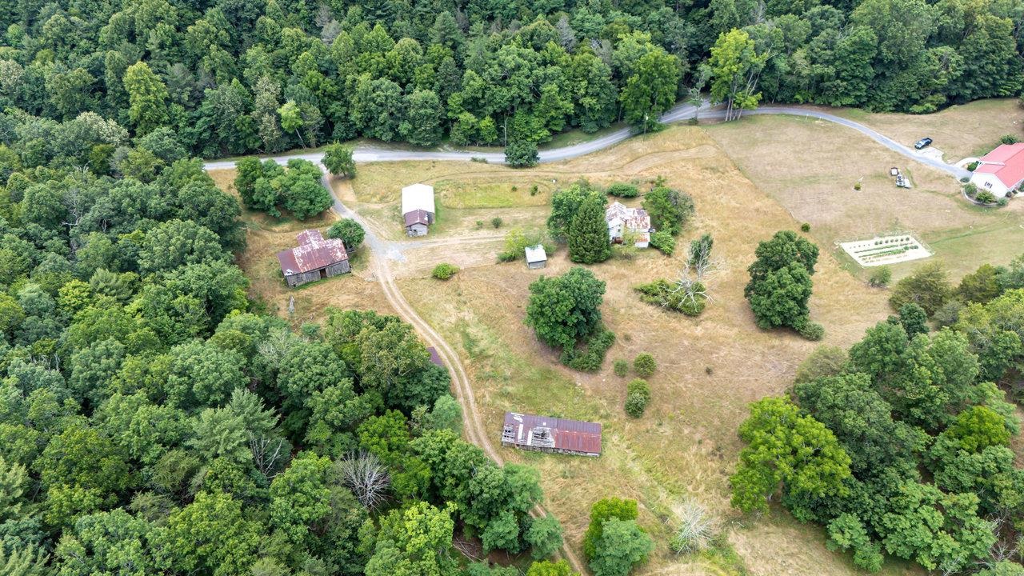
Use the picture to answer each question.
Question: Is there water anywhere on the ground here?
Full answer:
No, water can't be seen anywhere here.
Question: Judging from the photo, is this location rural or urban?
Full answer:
It looks rural.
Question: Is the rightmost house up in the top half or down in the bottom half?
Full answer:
The top half of the photo is where the rightmost house is.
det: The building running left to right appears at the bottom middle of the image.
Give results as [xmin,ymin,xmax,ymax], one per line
[502,411,604,461]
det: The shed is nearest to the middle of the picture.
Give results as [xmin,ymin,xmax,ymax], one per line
[523,244,547,269]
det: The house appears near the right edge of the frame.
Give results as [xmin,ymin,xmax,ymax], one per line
[969,148,1024,196]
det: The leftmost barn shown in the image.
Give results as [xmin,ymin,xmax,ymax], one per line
[278,235,359,286]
